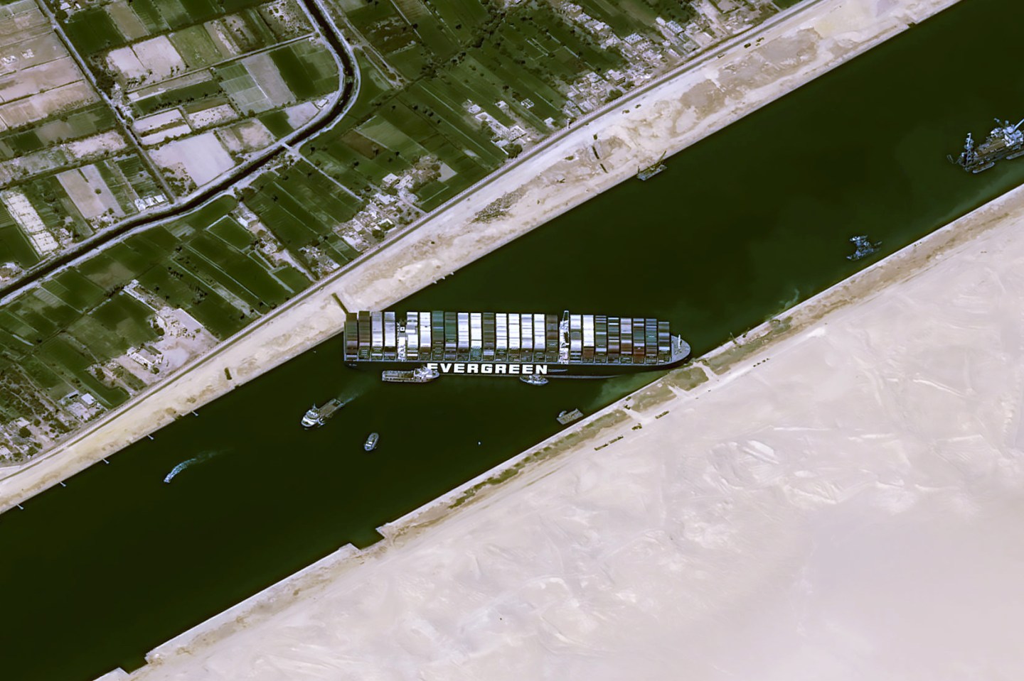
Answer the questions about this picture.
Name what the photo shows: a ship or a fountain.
ship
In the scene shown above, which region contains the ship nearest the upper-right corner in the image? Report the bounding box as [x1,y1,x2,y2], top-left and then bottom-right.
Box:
[954,123,1024,170]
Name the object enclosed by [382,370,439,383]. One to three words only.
vessel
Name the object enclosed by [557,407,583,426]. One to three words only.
ship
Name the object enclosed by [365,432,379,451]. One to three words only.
boat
